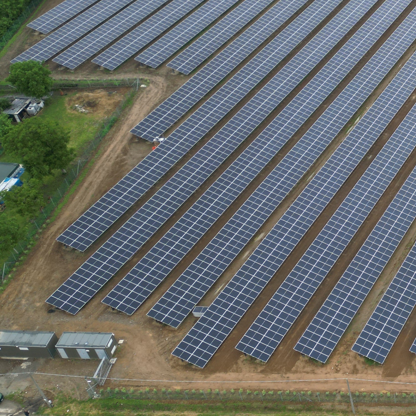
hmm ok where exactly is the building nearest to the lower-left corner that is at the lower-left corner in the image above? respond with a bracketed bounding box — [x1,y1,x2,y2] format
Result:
[0,330,58,359]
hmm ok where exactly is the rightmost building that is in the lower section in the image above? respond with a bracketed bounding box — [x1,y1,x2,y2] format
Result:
[55,332,119,360]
